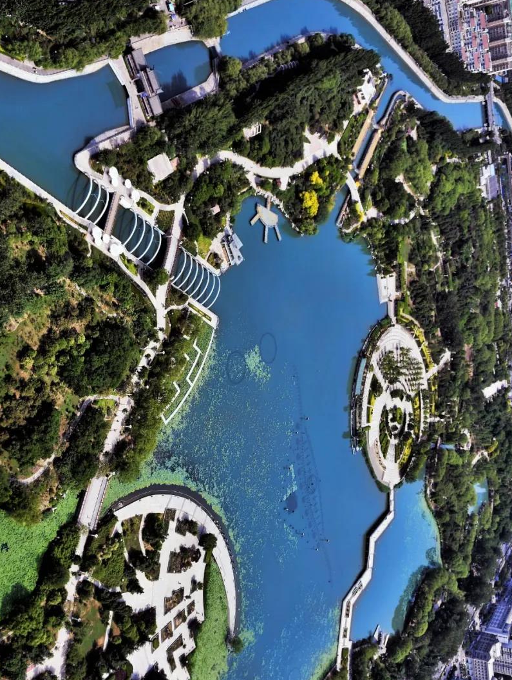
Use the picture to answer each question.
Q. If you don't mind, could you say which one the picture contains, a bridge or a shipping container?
bridge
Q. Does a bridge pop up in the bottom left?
Yes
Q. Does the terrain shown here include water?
Yes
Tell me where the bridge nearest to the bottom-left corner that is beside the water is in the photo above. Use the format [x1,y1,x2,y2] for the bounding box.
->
[78,468,111,530]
